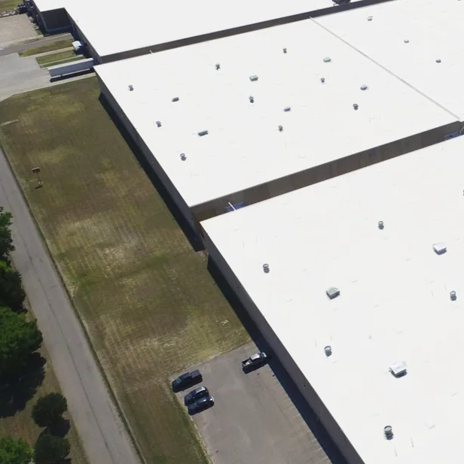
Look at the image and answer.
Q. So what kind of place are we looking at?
industrial area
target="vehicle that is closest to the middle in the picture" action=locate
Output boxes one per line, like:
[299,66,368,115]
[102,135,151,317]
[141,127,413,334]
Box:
[239,353,269,372]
